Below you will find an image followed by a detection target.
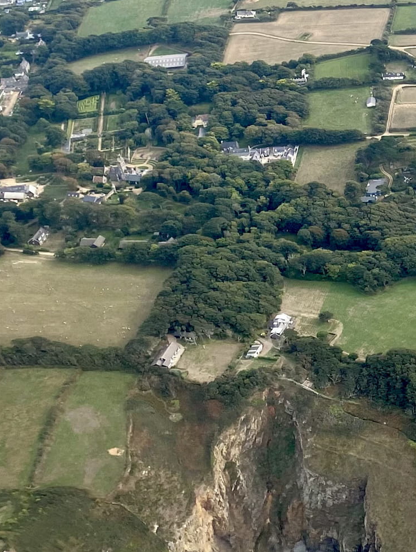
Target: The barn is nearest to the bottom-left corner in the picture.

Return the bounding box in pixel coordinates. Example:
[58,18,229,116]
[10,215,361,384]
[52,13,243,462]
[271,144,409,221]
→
[156,334,185,367]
